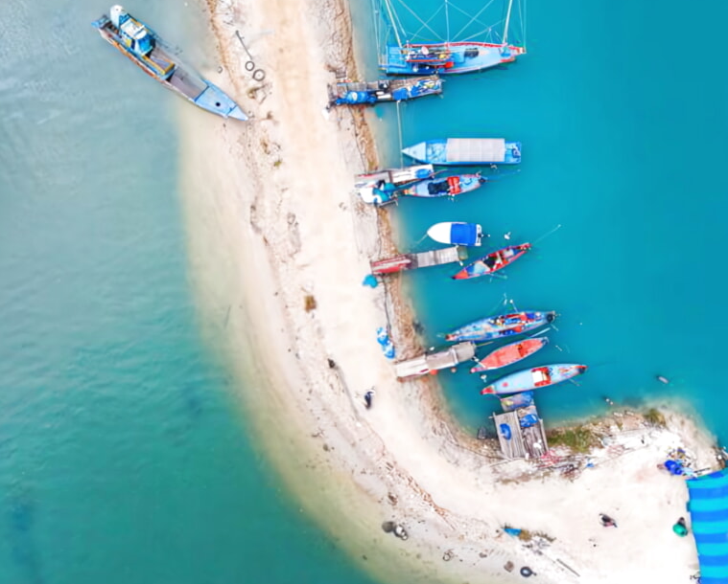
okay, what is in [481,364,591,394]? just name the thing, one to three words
boat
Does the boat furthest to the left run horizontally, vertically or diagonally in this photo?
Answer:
diagonally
